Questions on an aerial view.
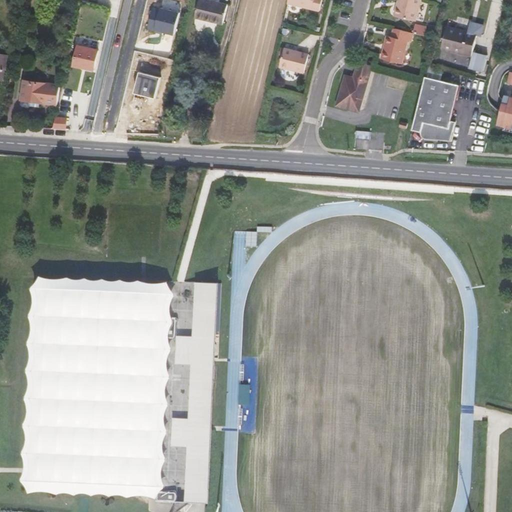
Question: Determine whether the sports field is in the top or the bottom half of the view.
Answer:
bottom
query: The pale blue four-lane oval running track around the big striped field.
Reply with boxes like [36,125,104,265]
[222,202,476,512]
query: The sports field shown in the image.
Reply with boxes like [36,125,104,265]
[240,216,463,512]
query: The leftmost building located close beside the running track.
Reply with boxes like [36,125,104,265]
[20,272,176,502]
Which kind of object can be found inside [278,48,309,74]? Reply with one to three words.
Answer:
house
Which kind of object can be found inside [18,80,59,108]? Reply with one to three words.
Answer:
house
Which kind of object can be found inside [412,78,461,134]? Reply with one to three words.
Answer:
building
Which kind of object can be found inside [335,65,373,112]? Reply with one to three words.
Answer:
building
